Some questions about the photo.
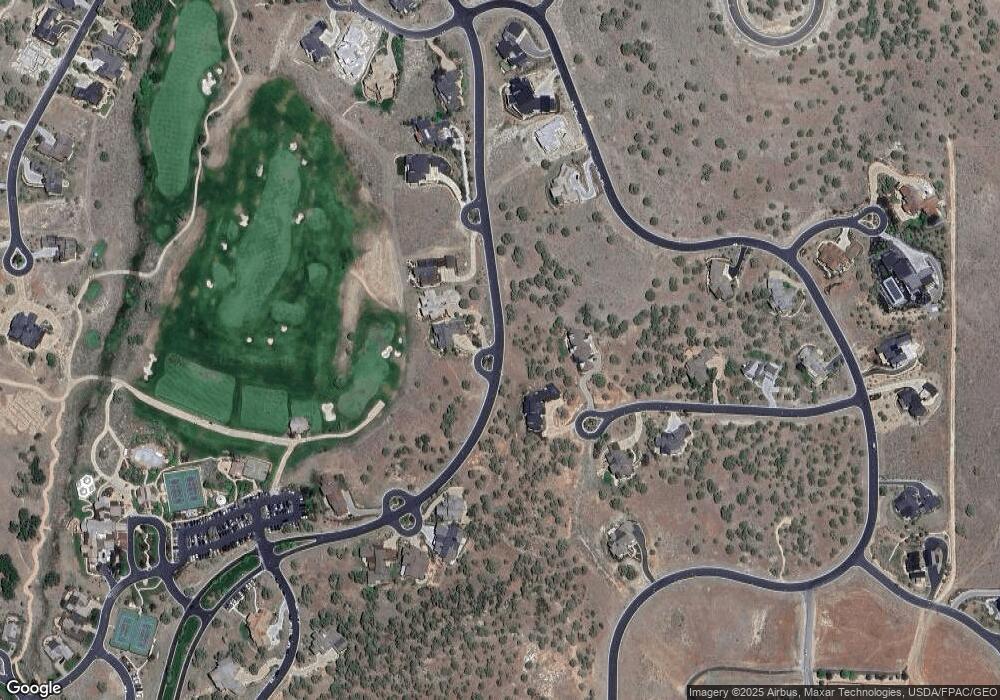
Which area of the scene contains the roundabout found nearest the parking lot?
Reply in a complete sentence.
You can find the roundabout found nearest the parking lot in the bottom area of the picture.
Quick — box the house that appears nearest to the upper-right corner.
[898,183,942,218]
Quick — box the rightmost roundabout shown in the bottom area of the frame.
[575,408,606,439]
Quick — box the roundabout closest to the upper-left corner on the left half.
[3,243,33,276]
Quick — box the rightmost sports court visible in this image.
[243,458,271,481]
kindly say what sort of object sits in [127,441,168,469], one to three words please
swimming pool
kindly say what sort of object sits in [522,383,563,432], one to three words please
house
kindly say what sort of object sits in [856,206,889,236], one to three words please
roundabout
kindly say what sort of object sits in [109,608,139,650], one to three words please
tennis court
